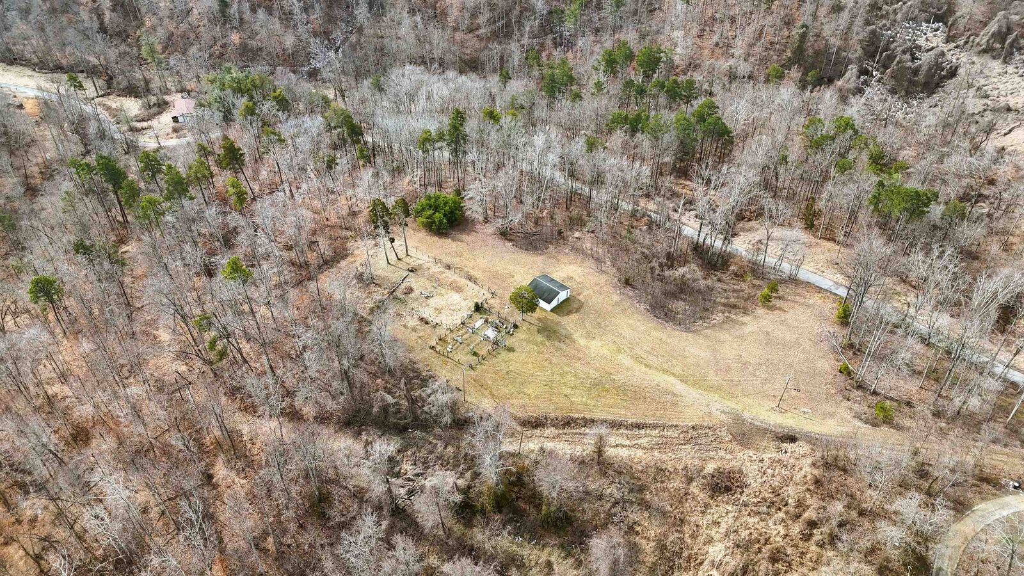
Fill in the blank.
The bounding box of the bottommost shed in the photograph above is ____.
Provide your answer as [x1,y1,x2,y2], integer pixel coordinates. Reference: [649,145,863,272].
[524,274,574,310]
